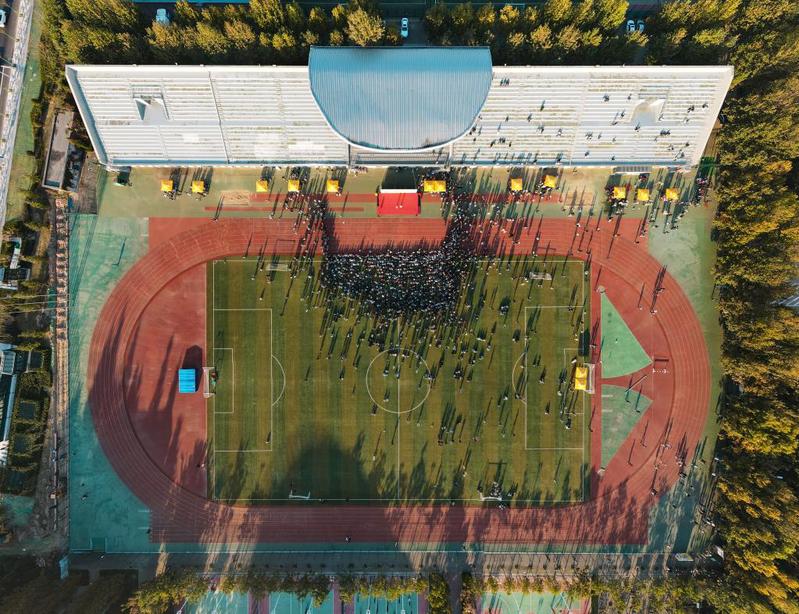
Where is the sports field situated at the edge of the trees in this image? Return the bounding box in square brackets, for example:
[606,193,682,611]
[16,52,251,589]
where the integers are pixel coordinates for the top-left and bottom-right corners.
[206,252,591,509]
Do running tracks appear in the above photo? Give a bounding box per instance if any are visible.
[87,217,712,544]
